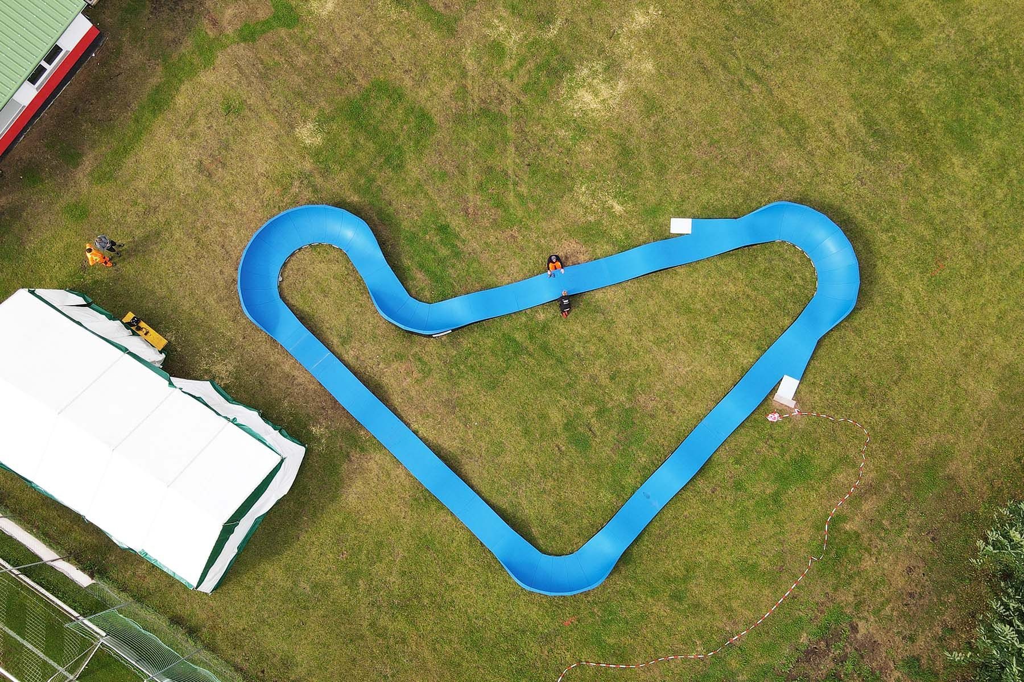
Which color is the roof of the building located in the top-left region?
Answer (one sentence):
From above, the roof of the building located in the top-left region looks green.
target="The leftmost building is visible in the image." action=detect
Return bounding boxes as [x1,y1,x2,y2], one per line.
[0,0,100,154]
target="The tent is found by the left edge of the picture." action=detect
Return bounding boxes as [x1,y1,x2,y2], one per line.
[0,287,307,595]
